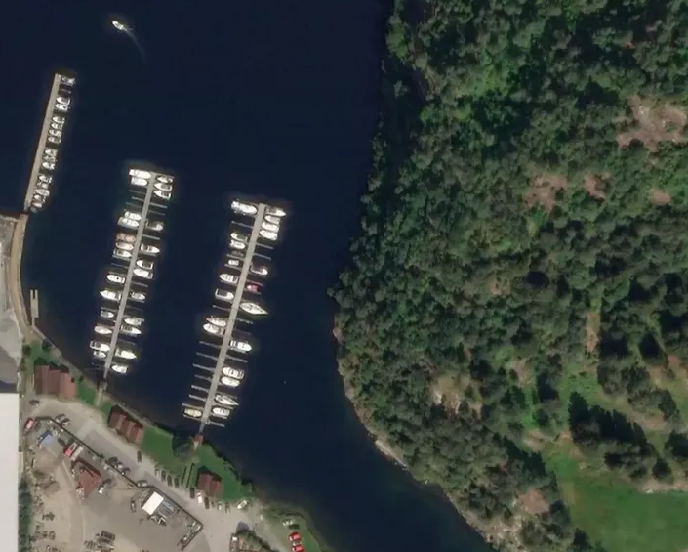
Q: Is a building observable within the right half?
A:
No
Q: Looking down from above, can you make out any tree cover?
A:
Yes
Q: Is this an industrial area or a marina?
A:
marina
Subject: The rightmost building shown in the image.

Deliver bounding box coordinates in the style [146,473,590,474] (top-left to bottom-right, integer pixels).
[198,471,222,497]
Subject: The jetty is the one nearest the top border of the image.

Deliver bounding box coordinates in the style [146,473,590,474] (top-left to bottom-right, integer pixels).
[23,74,62,211]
